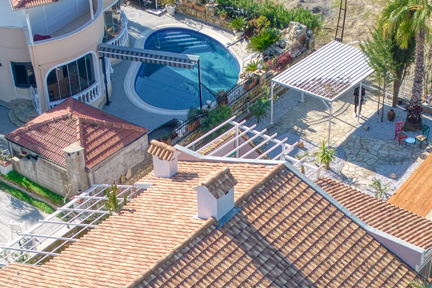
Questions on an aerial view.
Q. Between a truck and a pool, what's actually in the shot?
pool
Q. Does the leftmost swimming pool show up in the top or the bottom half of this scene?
top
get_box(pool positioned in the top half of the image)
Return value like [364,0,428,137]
[121,21,251,117]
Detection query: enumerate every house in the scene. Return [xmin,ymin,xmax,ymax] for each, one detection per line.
[0,0,138,129]
[0,134,432,288]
